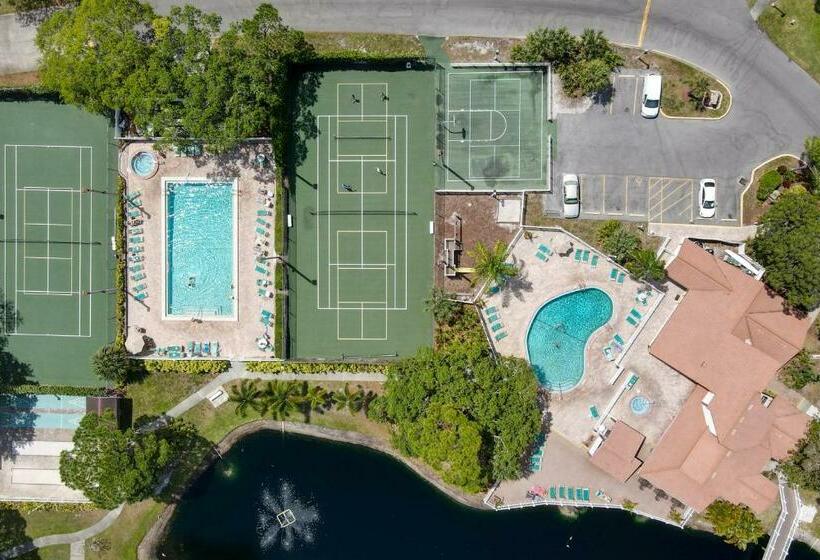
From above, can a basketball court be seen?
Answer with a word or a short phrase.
Yes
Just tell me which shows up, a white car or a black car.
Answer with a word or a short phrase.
white car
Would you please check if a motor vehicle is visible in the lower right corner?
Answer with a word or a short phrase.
No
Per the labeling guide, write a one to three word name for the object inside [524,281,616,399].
swimming pool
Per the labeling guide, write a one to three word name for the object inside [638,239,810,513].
building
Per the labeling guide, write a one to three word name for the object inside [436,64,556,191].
basketball court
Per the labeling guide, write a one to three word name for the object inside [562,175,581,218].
car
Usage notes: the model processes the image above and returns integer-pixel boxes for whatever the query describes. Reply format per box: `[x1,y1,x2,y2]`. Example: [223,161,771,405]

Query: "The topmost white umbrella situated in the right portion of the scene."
[553,238,571,256]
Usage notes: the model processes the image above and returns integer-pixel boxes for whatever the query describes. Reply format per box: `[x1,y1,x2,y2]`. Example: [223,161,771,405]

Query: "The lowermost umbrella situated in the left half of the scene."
[125,333,146,353]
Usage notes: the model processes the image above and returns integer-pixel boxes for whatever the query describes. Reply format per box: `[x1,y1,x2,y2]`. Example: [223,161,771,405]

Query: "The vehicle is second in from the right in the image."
[641,75,663,119]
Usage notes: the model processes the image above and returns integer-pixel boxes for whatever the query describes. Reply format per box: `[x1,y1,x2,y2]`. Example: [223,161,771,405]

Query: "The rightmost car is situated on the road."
[697,179,718,218]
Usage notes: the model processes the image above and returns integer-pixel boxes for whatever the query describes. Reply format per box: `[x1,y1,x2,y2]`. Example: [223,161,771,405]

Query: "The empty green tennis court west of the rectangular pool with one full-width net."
[0,101,114,384]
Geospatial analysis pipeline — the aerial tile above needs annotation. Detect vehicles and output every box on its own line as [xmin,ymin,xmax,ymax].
[562,175,581,218]
[641,75,663,119]
[697,179,718,218]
